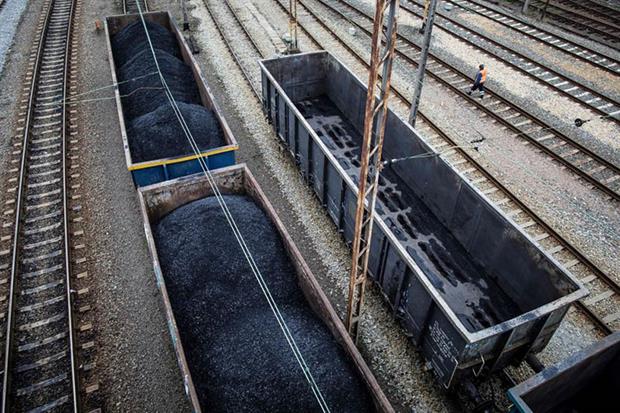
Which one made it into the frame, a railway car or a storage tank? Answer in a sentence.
It is a railway car that can be seen here.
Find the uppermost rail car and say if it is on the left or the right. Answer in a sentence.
The uppermost rail car appears in the left half of the scene.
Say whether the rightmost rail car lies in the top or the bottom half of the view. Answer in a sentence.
Seen from above, the rightmost rail car lies in the bottom half of the view.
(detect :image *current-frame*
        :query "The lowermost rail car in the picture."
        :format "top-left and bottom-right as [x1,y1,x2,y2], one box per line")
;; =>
[493,332,620,413]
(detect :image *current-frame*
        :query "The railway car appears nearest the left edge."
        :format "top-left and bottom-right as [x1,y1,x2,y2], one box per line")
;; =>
[104,10,239,227]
